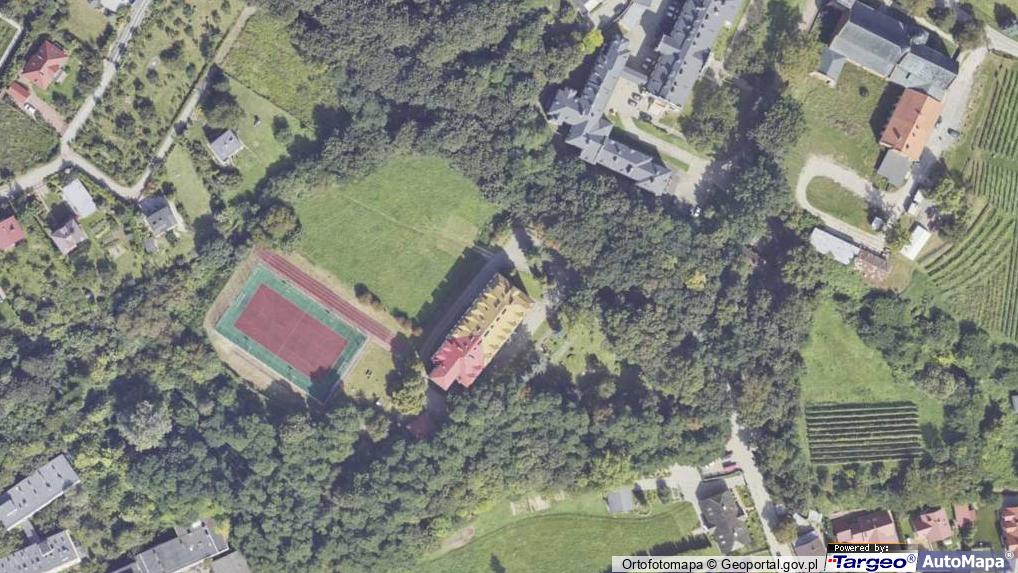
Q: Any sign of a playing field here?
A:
Yes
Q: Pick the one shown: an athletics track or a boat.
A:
athletics track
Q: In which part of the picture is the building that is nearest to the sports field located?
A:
center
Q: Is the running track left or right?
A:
left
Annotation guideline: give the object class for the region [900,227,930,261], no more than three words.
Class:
building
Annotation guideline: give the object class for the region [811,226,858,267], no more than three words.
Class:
shed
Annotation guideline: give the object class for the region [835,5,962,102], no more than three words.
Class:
building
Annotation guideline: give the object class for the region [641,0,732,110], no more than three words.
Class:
house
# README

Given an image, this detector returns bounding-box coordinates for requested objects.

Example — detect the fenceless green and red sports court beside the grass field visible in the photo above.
[213,263,371,401]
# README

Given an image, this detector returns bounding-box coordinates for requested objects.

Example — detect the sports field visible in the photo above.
[297,152,495,322]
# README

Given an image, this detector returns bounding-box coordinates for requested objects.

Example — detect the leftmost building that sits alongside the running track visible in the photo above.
[429,270,534,392]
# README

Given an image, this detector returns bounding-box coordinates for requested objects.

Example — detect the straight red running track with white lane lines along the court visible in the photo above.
[255,249,399,350]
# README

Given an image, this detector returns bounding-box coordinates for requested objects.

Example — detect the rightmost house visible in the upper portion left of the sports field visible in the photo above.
[212,131,242,162]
